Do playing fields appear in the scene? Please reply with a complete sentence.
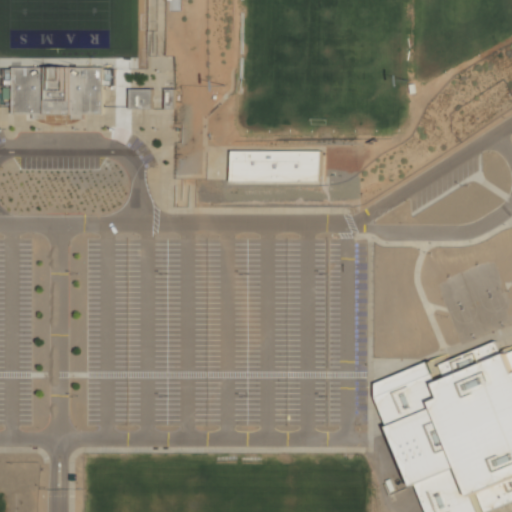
Yes, the photo shows a playing field.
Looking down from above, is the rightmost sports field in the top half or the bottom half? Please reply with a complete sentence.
It is in the top half that the rightmost sports field appears.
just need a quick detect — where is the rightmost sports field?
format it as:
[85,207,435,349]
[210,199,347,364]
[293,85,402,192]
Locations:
[413,0,512,92]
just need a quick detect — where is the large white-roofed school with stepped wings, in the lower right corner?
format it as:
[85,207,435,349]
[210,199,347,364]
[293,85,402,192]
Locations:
[372,341,512,512]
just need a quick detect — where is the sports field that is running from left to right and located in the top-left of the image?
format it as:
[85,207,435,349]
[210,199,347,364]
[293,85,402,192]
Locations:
[0,0,138,58]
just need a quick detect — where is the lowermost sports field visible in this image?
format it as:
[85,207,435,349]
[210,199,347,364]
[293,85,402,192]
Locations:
[78,450,384,512]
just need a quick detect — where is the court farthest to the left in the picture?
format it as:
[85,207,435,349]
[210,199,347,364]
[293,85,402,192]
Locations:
[443,276,486,344]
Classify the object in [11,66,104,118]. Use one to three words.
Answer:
building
